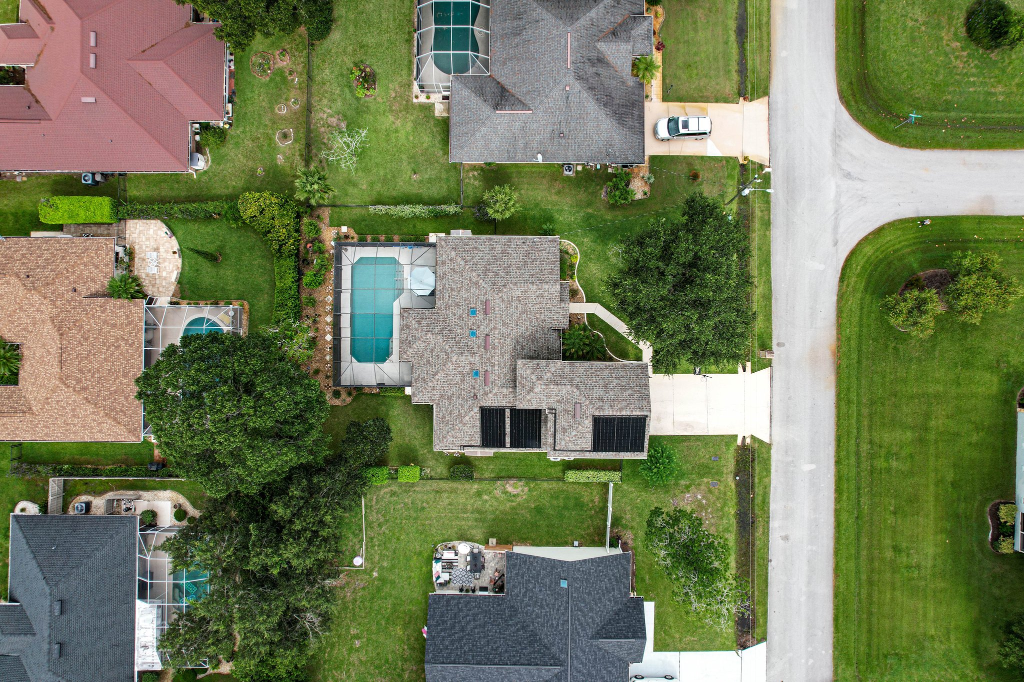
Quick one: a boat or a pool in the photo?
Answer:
pool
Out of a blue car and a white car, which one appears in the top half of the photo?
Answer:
white car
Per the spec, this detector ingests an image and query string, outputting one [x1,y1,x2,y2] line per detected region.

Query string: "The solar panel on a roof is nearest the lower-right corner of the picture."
[592,416,647,452]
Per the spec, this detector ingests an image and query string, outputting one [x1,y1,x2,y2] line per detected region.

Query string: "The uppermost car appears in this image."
[655,113,715,144]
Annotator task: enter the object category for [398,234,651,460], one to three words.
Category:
house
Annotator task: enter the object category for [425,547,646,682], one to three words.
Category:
house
